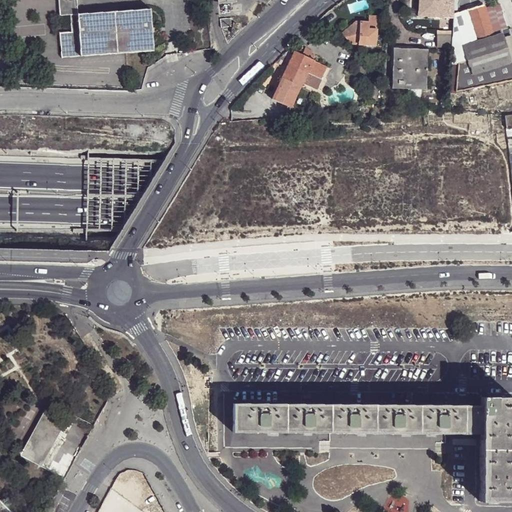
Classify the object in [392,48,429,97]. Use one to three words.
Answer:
house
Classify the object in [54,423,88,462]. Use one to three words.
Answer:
shed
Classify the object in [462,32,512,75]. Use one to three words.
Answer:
building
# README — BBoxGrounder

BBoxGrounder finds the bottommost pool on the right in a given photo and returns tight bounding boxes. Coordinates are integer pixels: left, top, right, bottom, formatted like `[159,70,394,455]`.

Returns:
[328,88,354,104]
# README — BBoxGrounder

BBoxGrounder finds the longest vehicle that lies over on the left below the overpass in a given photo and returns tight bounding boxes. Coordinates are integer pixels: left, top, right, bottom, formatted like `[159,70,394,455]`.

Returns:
[176,392,192,437]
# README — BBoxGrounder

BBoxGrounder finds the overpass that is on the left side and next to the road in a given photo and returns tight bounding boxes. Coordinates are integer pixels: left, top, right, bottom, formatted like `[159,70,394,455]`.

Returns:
[108,129,212,251]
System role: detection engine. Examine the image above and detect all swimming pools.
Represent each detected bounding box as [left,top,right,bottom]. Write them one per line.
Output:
[346,0,370,14]
[328,88,354,104]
